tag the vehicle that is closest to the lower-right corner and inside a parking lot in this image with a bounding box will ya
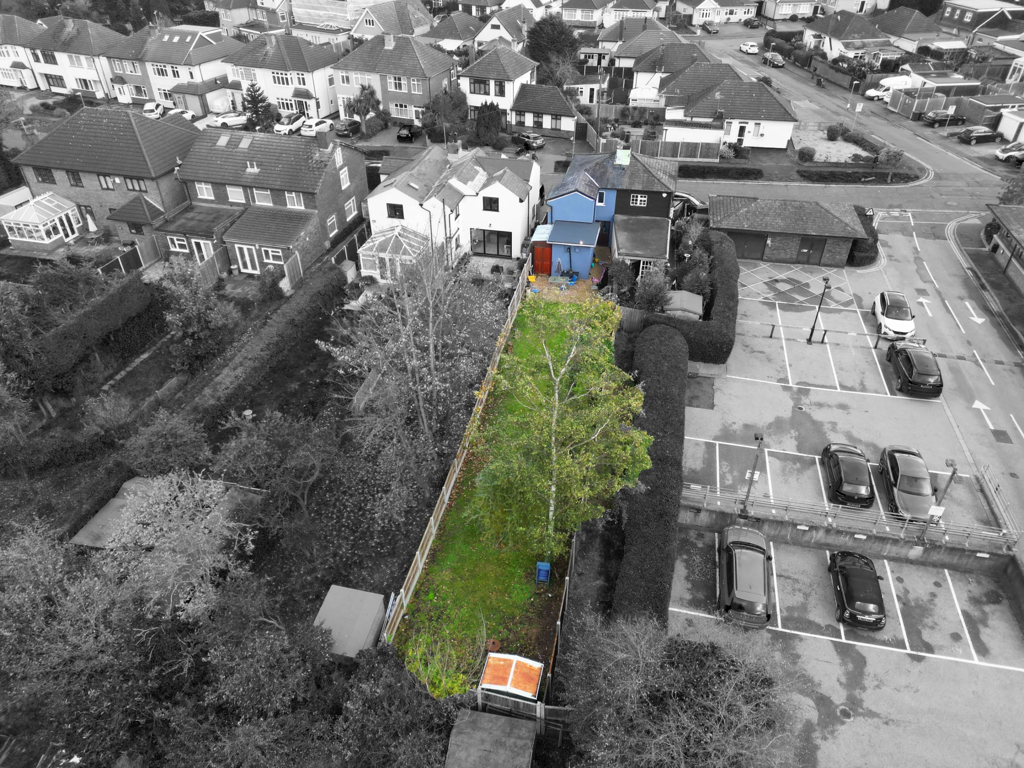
[829,544,894,628]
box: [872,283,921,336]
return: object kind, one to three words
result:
car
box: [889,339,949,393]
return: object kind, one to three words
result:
car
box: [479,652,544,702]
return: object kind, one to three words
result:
shed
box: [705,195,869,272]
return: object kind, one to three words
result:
shed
